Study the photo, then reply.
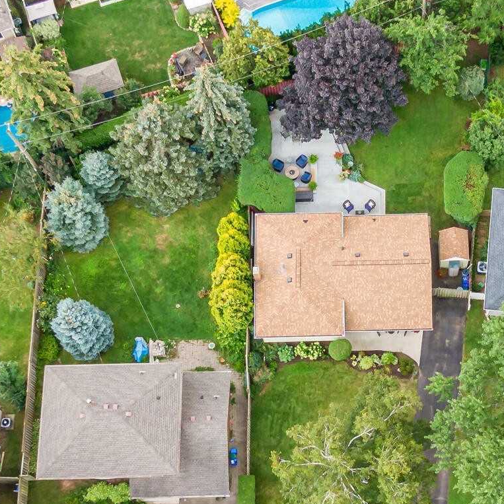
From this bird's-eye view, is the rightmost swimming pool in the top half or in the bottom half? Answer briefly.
top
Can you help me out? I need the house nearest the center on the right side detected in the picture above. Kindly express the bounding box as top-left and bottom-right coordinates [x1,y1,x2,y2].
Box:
[251,213,434,345]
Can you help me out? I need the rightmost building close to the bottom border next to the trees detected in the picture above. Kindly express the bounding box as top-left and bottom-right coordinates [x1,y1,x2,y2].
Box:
[35,362,232,501]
